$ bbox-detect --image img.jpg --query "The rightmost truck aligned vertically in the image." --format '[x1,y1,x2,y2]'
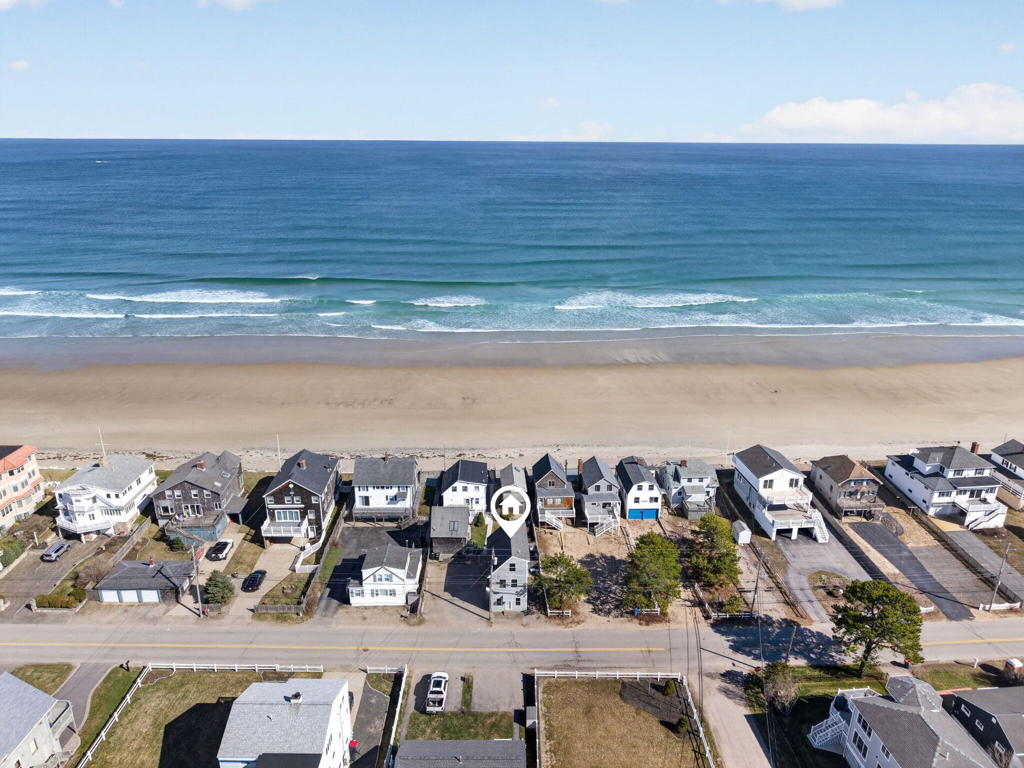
[425,669,450,713]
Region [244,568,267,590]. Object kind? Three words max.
car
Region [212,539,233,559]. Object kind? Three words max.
car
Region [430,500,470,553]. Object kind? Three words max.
shed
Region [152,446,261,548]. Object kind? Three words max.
house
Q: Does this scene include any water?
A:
Yes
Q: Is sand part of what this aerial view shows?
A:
Yes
